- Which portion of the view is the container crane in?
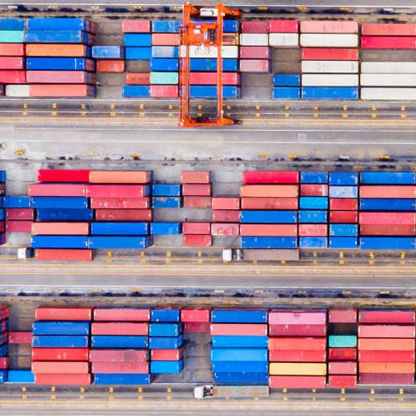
top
